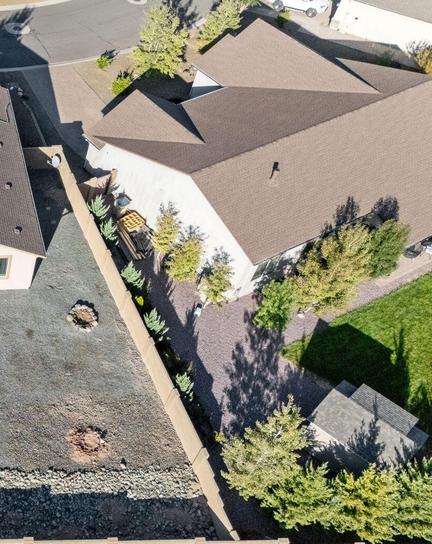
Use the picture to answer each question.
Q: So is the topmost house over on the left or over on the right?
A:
right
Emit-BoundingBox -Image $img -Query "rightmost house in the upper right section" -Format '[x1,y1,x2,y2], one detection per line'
[329,0,432,52]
